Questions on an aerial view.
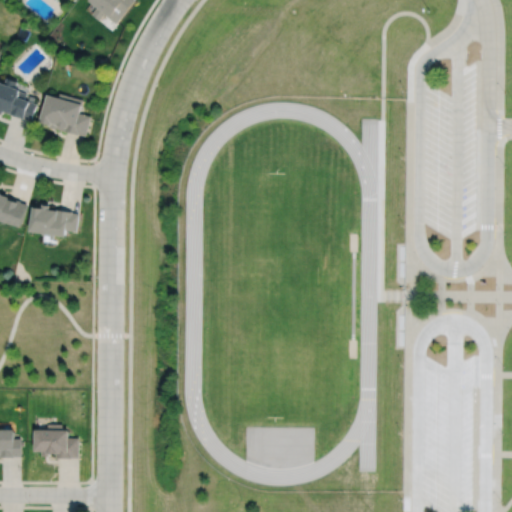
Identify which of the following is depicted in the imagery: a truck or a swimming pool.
swimming pool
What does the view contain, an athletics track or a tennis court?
athletics track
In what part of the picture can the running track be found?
center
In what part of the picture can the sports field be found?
center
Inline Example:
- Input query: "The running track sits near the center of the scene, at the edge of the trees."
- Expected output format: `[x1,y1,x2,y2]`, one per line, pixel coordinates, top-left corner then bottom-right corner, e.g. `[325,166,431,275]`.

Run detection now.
[185,102,378,486]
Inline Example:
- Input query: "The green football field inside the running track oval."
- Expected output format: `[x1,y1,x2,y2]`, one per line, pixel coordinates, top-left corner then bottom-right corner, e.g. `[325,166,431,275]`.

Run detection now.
[202,120,360,461]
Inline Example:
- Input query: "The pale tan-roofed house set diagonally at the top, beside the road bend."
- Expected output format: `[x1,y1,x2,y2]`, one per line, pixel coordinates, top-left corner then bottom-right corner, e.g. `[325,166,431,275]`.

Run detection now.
[88,0,136,31]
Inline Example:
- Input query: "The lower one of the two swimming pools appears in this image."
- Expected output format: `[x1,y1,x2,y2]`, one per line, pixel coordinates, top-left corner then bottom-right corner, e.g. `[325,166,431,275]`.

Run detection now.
[14,44,53,84]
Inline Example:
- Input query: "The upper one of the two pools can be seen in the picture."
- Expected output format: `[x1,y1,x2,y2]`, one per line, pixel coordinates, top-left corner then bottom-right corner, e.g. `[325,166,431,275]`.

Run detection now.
[22,0,65,22]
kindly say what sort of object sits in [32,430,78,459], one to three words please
house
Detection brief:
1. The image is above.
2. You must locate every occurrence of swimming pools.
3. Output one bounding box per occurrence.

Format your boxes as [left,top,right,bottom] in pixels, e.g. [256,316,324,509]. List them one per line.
[22,0,65,22]
[14,44,53,84]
